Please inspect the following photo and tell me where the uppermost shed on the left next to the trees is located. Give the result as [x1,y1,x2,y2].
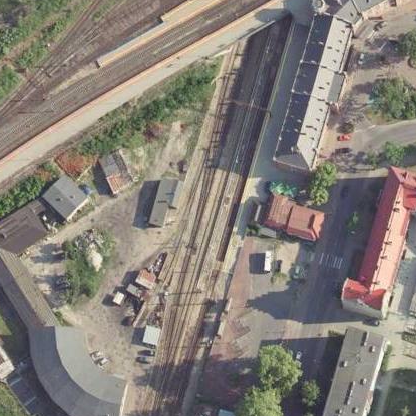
[100,150,132,194]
